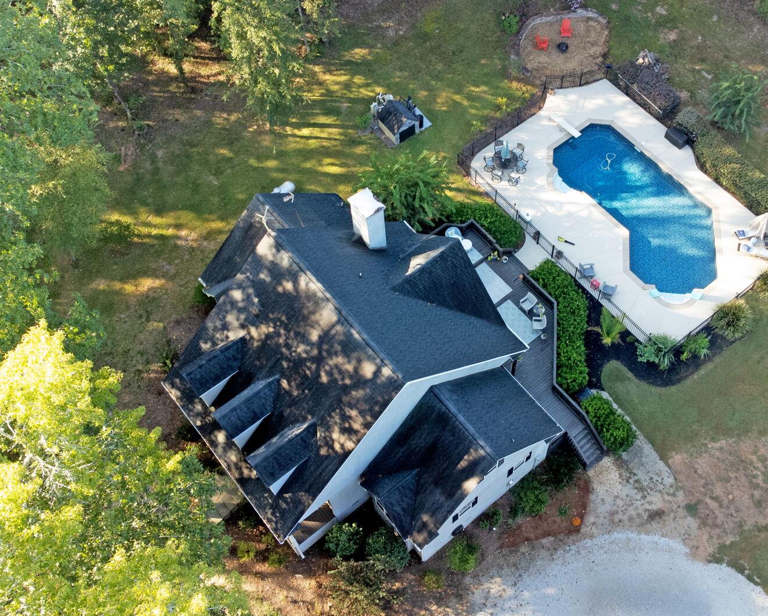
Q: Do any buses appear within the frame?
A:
No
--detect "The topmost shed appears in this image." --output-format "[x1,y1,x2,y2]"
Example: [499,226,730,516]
[374,97,421,144]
